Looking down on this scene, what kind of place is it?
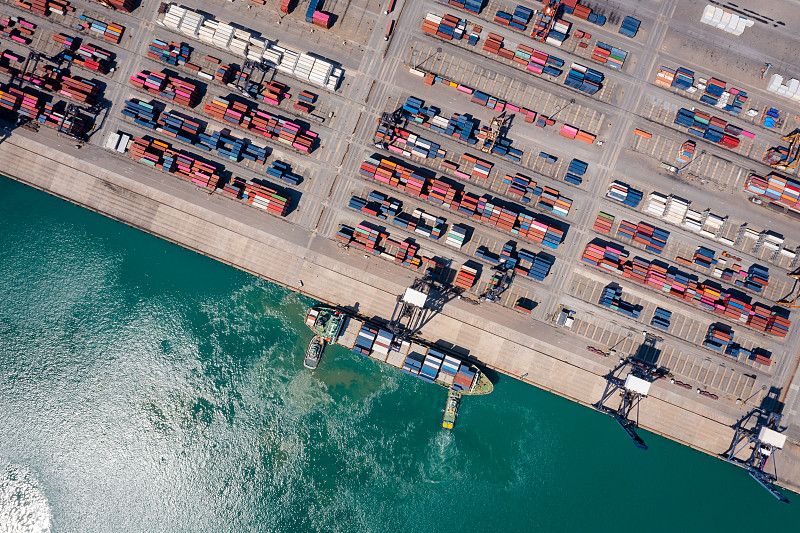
port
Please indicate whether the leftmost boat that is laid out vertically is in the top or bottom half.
bottom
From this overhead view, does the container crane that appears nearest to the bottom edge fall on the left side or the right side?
right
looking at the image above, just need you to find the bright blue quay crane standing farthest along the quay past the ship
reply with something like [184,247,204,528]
[712,408,792,505]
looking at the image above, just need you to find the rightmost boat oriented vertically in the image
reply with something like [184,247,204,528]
[441,392,459,431]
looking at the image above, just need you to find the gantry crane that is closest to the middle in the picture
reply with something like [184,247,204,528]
[384,269,432,351]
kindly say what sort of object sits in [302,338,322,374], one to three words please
boat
